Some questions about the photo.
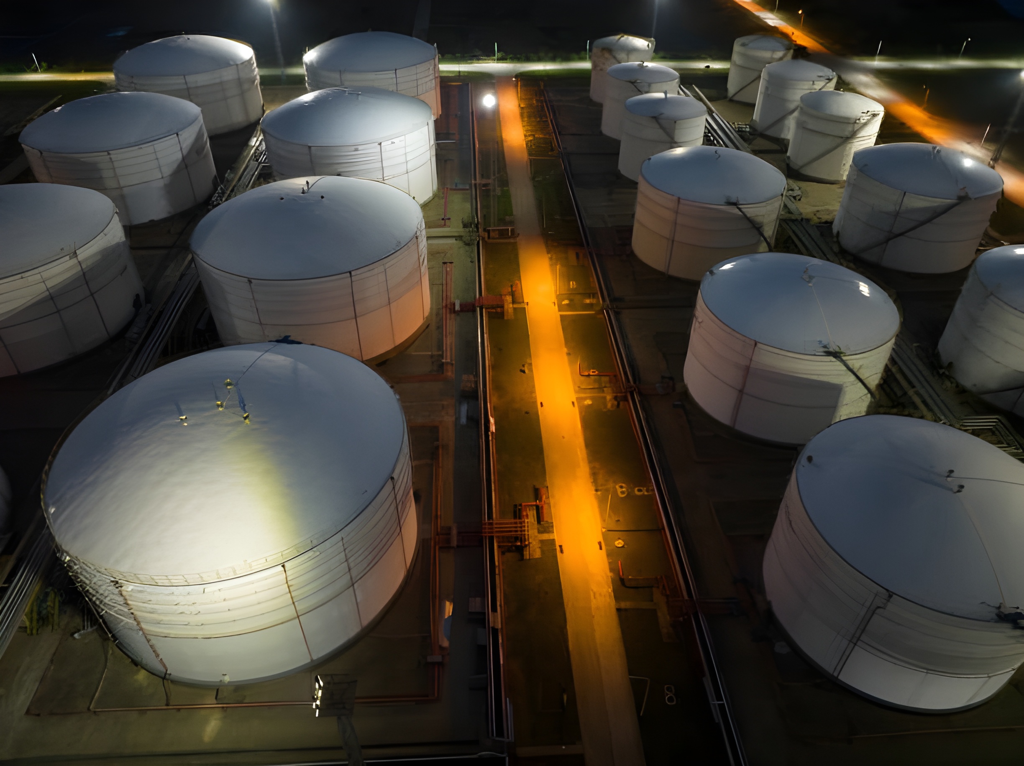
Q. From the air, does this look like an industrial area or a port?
industrial area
